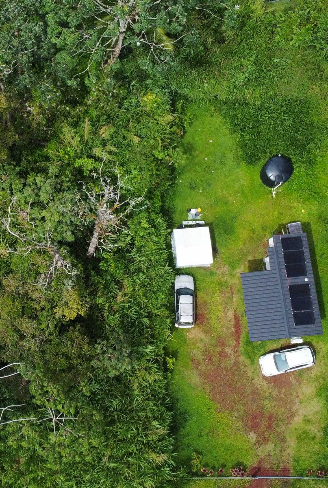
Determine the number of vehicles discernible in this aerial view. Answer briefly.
2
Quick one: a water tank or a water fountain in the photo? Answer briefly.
water tank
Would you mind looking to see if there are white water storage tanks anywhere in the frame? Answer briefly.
No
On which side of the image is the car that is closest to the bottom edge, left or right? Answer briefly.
right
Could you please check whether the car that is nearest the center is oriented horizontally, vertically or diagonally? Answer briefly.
vertically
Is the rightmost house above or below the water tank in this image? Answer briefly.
below it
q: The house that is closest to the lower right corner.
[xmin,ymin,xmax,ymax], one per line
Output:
[241,234,324,341]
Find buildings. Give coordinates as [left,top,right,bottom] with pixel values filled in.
[170,226,213,269]
[241,234,324,341]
